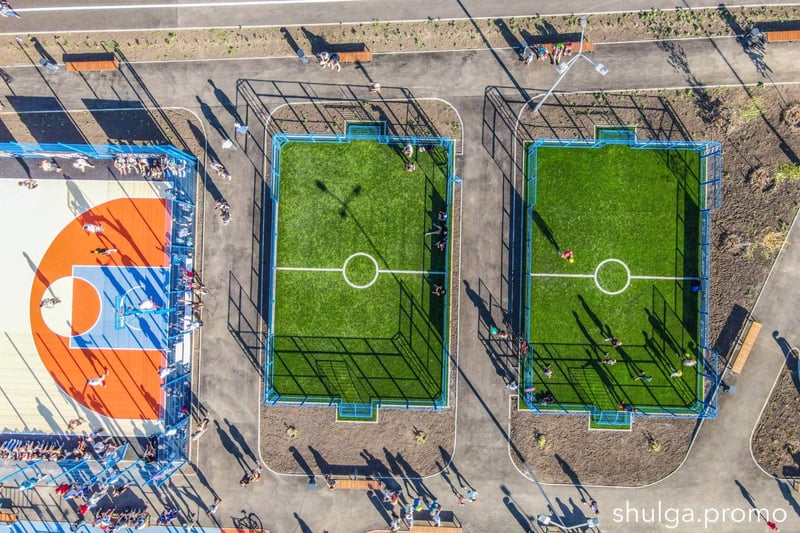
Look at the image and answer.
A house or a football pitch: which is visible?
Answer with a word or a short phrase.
football pitch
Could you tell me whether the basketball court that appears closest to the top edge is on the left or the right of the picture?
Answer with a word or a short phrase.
left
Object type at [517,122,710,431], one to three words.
soccer field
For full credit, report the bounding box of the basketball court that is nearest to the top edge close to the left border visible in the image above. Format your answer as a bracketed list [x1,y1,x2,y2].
[0,152,198,462]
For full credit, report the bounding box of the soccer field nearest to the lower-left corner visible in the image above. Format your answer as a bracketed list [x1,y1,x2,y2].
[270,117,458,423]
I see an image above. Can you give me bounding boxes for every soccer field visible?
[517,122,710,431]
[270,117,458,423]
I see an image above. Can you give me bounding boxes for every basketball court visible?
[0,152,198,462]
[0,522,273,533]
